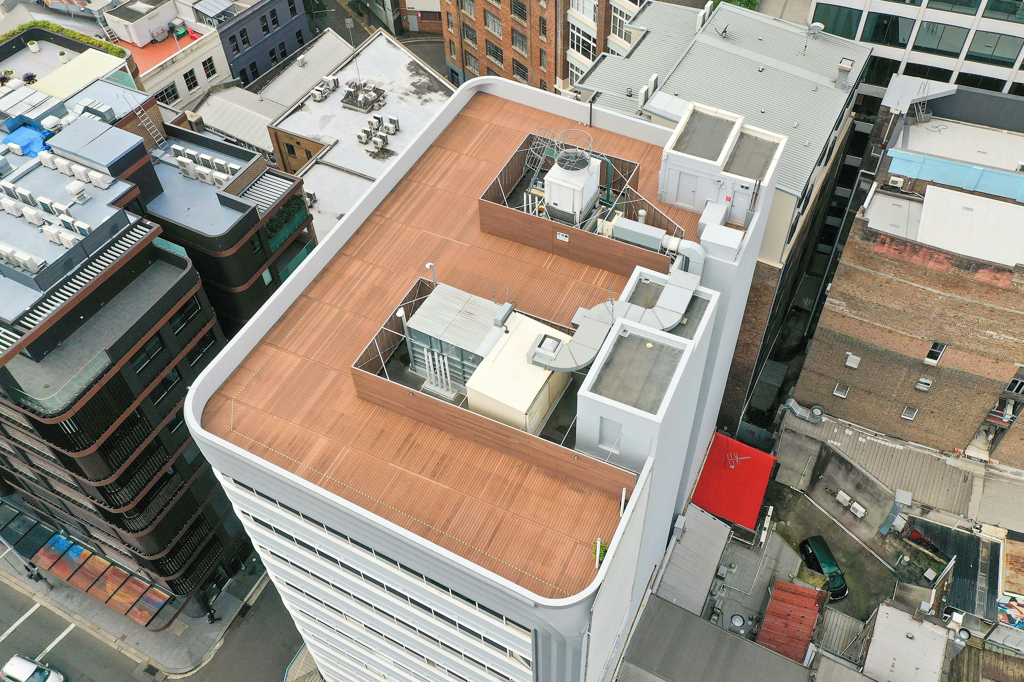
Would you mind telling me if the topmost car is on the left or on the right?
right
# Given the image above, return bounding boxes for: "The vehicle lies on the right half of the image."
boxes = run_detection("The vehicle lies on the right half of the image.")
[800,536,848,605]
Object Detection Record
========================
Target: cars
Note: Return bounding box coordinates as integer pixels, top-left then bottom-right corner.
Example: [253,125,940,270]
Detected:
[0,653,62,682]
[800,536,848,605]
